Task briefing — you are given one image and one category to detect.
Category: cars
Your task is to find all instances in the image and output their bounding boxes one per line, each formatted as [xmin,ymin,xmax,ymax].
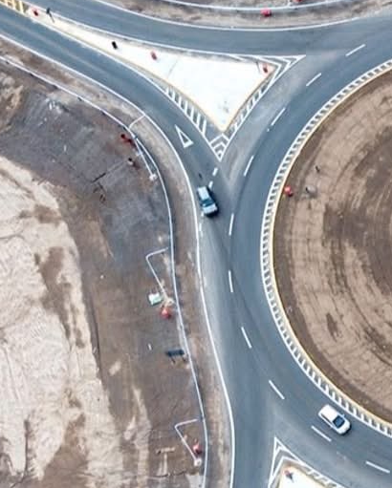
[197,186,218,217]
[318,403,349,433]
